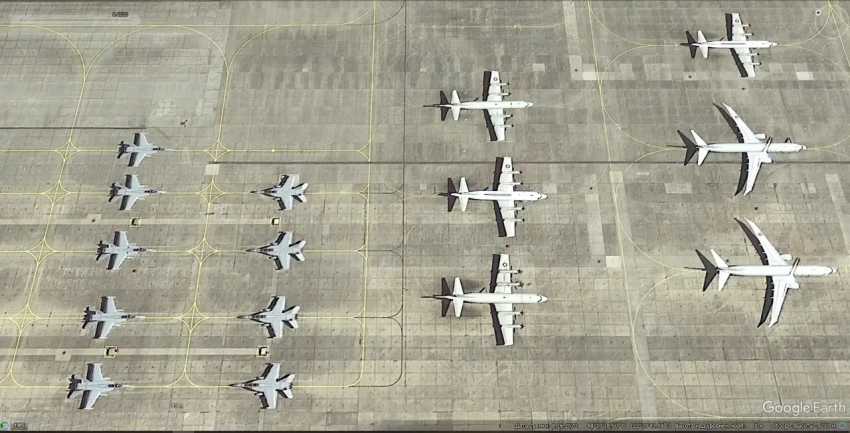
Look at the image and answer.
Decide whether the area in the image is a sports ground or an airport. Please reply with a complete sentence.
It's an airport.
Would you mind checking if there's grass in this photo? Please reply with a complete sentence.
No, no grass is visible.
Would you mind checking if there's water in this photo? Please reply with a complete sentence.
No, there is no water in the image.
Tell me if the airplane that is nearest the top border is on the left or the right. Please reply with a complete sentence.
It is on the right.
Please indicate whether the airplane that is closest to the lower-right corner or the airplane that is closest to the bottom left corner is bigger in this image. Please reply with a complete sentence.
Of the two, the airplane that is closest to the lower-right corner is bigger, while the airplane that is closest to the bottom left corner is smaller.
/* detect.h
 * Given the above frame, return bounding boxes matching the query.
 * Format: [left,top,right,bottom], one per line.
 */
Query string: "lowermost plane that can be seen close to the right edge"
[714,217,836,327]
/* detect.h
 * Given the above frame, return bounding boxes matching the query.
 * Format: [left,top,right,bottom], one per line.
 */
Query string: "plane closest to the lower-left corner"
[71,364,135,409]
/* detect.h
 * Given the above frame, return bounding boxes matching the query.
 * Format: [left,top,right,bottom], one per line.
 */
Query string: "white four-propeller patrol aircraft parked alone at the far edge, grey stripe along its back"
[683,12,777,76]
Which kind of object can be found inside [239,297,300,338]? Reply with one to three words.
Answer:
airplane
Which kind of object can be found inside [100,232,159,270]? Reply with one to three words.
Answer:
airplane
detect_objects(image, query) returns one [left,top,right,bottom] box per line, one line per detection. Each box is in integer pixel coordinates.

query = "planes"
[100,232,159,270]
[441,157,547,236]
[434,253,547,345]
[120,134,176,167]
[694,103,806,195]
[86,298,149,338]
[71,364,135,409]
[683,12,777,76]
[252,175,308,210]
[714,217,836,327]
[435,70,533,140]
[111,175,169,210]
[247,232,305,270]
[230,364,295,409]
[239,297,300,338]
